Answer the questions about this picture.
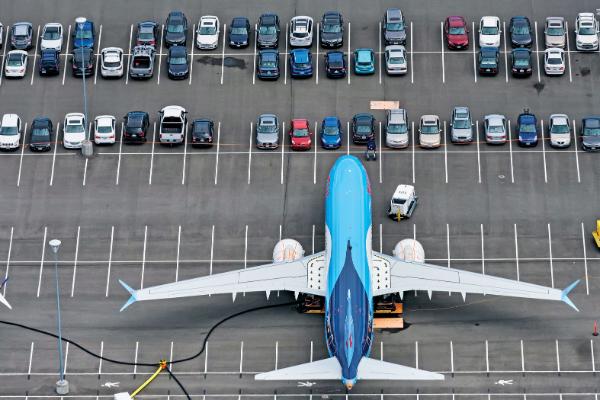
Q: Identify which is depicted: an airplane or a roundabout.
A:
airplane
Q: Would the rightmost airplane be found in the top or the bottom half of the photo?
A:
bottom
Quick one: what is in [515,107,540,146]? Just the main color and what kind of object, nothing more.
blue car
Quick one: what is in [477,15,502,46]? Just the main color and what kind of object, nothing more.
white car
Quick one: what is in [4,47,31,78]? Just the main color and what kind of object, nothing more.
white car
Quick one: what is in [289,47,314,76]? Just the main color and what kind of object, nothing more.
blue car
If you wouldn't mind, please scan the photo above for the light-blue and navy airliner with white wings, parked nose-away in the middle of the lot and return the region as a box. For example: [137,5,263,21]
[119,155,579,392]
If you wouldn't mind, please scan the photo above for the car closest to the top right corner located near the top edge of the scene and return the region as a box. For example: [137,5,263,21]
[574,12,600,49]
